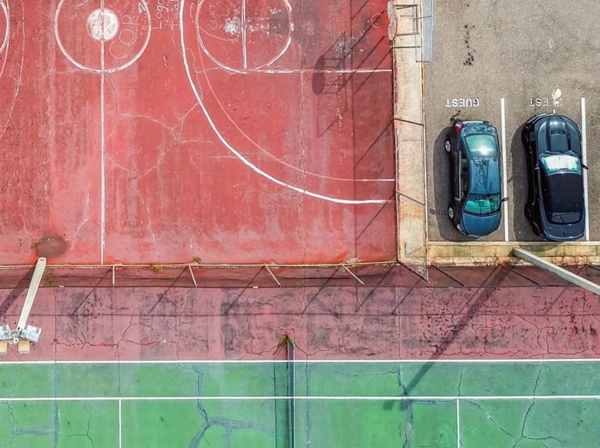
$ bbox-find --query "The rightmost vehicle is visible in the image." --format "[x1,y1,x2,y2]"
[521,113,591,242]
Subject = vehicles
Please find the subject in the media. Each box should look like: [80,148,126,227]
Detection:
[443,116,511,237]
[521,113,591,242]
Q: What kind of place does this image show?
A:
sports ground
